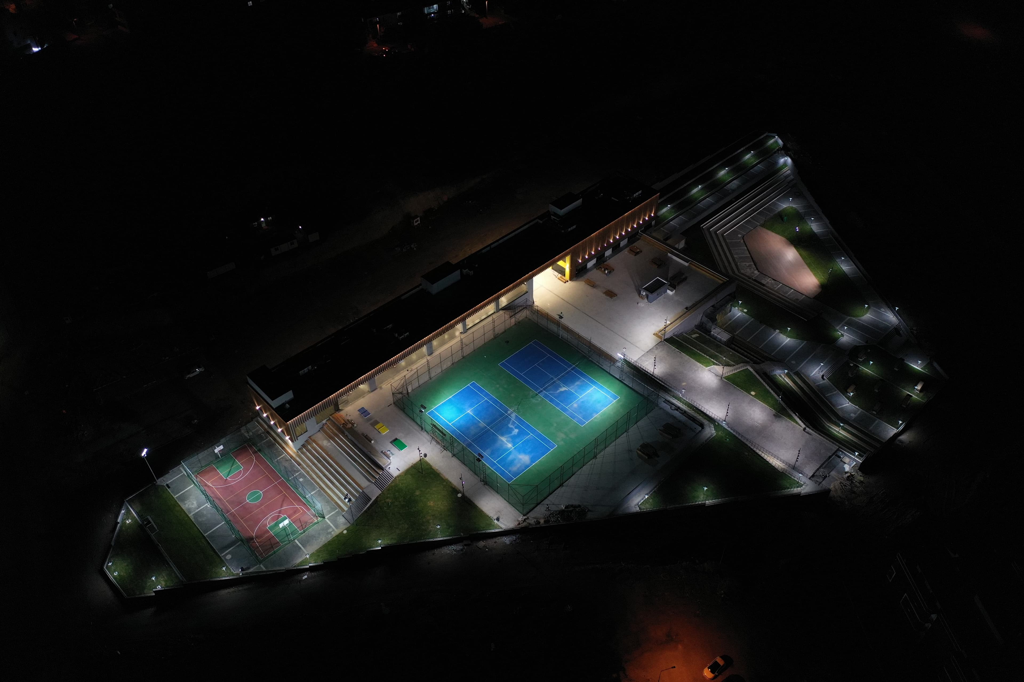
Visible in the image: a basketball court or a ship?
basketball court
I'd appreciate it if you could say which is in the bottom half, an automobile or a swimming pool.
automobile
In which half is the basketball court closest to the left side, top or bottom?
bottom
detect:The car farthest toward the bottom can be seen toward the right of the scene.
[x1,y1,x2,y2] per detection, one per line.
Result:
[702,655,728,681]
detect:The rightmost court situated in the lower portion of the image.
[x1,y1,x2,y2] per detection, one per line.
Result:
[395,317,657,514]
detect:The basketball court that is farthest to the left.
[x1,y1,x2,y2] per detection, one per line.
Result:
[188,437,323,562]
